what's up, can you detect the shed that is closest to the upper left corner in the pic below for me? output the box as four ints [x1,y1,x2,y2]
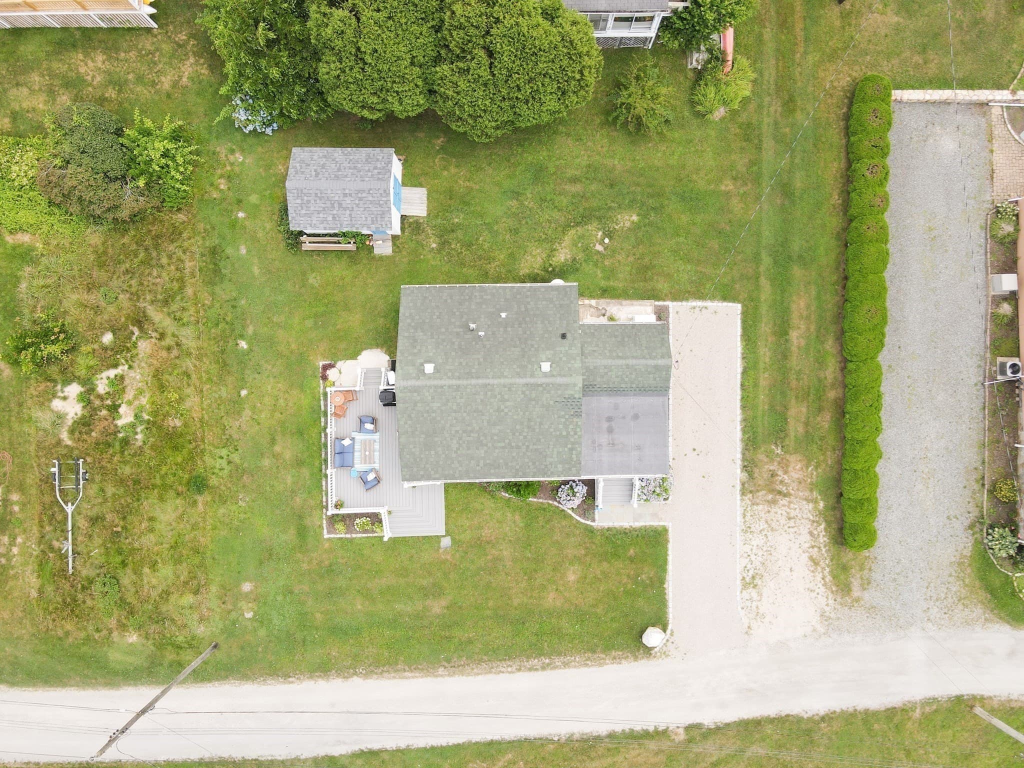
[284,148,401,235]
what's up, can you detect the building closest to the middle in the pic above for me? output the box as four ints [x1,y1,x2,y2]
[395,281,679,485]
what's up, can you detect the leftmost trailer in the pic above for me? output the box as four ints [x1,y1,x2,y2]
[49,458,90,574]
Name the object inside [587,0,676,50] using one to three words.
house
